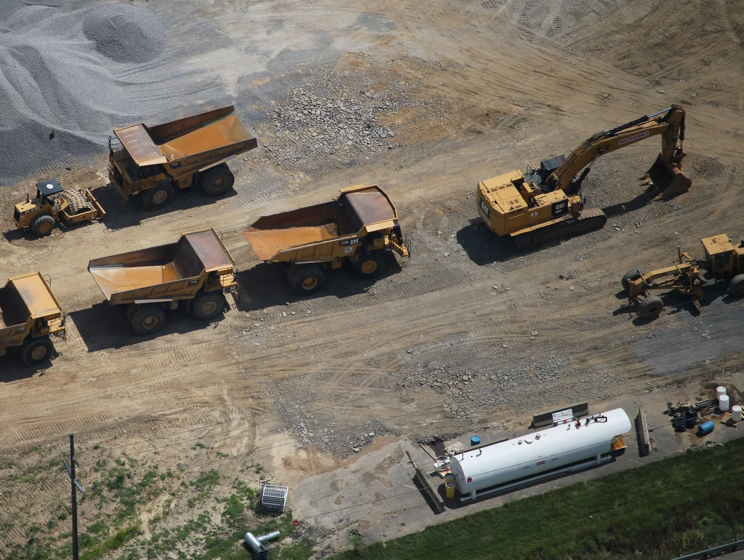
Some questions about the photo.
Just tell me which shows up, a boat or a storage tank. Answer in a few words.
storage tank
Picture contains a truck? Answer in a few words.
Yes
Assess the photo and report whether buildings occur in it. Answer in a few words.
No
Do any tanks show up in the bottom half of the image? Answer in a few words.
Yes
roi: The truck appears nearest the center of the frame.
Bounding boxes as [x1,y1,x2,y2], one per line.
[244,183,409,297]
